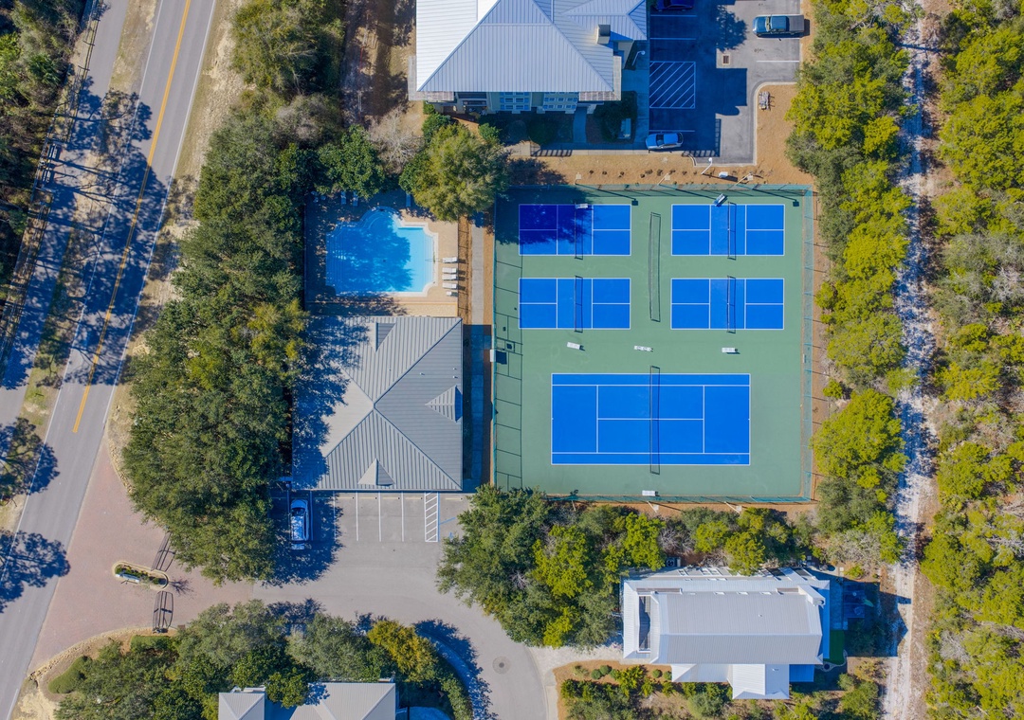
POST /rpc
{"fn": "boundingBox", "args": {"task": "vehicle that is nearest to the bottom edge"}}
[287,500,307,547]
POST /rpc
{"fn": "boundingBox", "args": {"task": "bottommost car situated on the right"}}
[646,130,684,149]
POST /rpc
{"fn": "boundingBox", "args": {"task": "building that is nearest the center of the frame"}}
[279,316,463,492]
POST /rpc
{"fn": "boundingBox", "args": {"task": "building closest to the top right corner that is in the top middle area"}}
[408,0,648,114]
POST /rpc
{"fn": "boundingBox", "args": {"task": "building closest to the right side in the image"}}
[621,572,830,700]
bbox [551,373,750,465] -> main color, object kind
blue tennis court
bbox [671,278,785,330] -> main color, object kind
blue sports court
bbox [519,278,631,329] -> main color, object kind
blue sports court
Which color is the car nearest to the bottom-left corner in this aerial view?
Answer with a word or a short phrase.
blue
